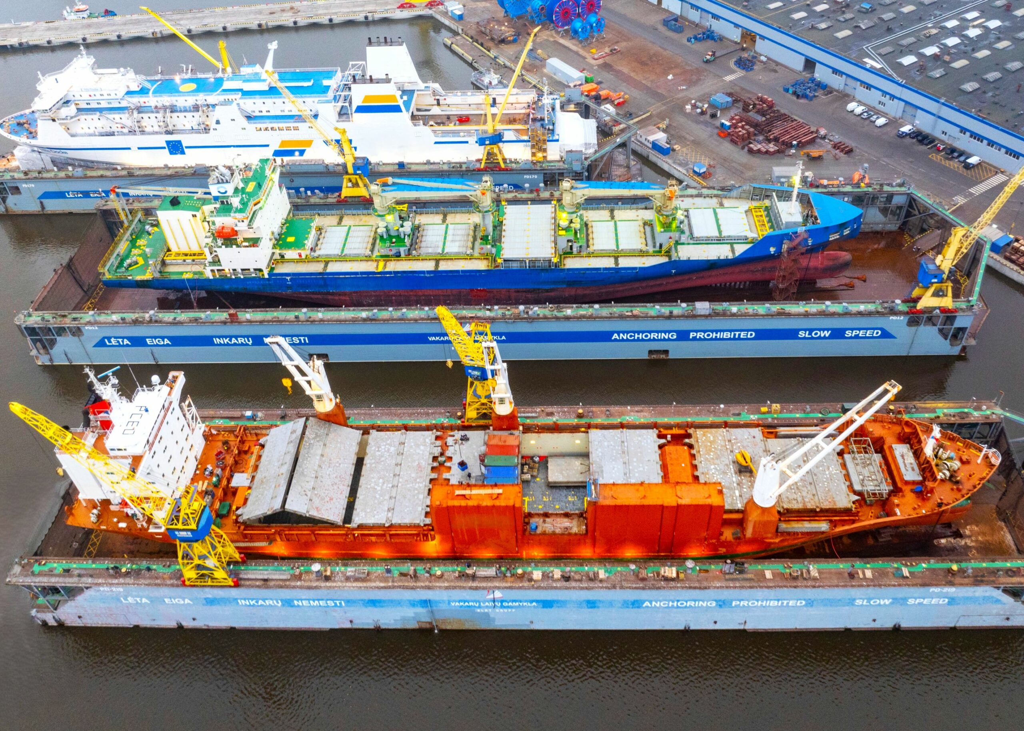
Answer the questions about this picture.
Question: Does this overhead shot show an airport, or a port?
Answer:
port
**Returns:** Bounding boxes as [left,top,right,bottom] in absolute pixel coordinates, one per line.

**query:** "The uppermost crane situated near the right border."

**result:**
[892,164,1024,319]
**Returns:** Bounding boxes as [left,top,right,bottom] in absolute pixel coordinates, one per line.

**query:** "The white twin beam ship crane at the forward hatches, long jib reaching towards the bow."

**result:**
[736,376,910,540]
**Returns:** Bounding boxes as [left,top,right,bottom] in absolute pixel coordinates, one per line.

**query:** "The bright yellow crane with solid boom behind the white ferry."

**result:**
[136,4,240,71]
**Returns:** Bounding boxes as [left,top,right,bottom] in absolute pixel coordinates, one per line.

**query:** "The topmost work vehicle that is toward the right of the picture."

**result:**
[703,46,716,61]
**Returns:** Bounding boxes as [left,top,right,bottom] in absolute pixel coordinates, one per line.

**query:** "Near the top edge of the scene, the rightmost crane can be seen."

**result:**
[471,23,542,170]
